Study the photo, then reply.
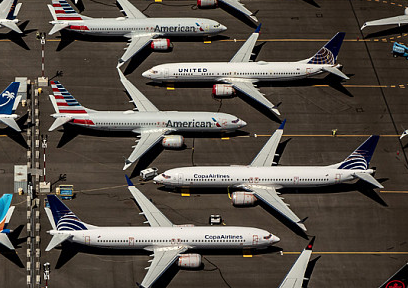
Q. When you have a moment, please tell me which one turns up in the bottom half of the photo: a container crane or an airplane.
airplane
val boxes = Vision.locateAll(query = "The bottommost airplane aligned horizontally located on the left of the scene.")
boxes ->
[44,171,279,288]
